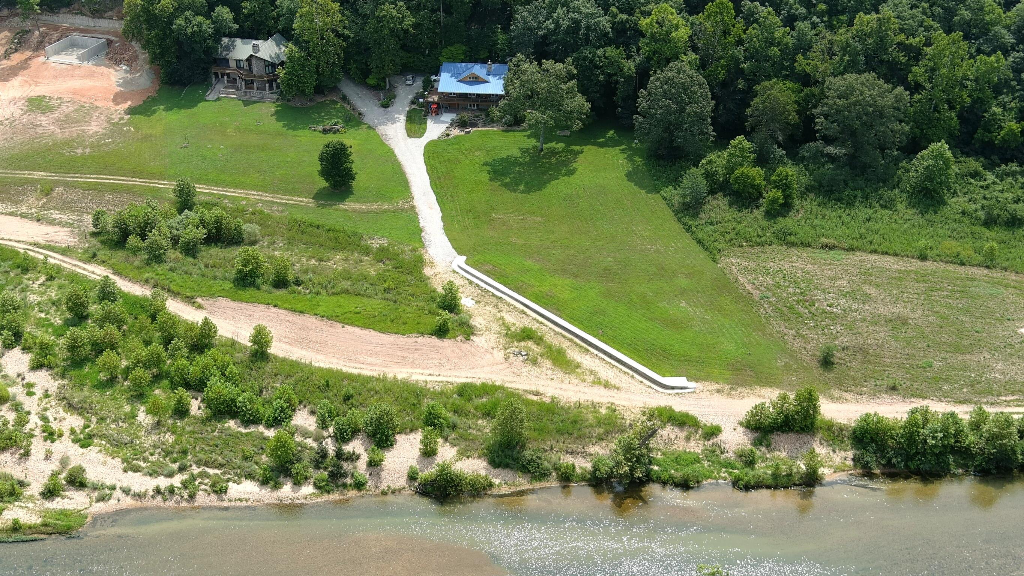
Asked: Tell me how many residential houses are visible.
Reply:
two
